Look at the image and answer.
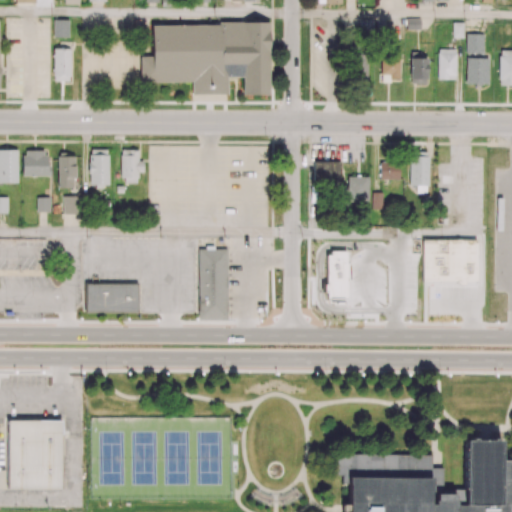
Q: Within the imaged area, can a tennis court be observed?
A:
Yes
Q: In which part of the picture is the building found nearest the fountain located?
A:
bottom right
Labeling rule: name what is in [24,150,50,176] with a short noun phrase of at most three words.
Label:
house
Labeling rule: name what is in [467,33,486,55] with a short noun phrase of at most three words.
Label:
building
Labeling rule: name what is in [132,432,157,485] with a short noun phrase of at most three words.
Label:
tennis court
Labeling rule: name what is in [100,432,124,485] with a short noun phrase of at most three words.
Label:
tennis court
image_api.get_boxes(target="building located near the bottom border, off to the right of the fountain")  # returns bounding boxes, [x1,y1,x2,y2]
[340,441,512,512]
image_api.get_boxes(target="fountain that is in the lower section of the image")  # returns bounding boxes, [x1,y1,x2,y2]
[268,462,284,478]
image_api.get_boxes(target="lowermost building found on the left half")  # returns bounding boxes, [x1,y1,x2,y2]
[8,420,64,491]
